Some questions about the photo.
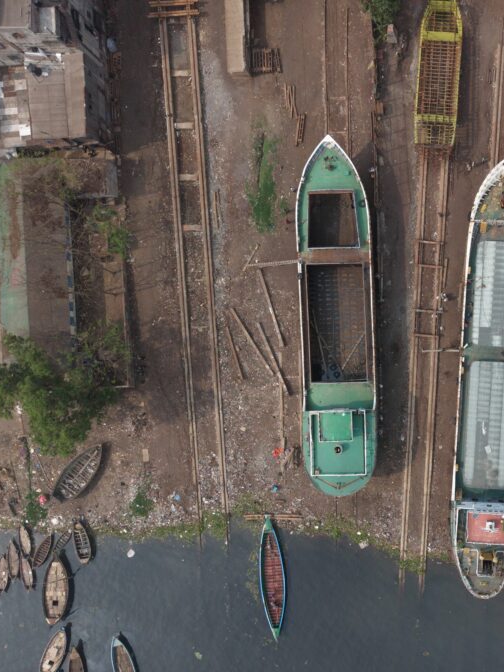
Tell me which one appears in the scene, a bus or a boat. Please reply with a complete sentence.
I can see a boat in this picture.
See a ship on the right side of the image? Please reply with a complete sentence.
Yes, the scene does show a ship on the right side of the image.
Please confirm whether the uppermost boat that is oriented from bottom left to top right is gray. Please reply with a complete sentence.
Yes, the uppermost boat that is oriented from bottom left to top right is indeed gray.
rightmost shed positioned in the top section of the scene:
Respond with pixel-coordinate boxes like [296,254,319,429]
[226,0,254,82]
